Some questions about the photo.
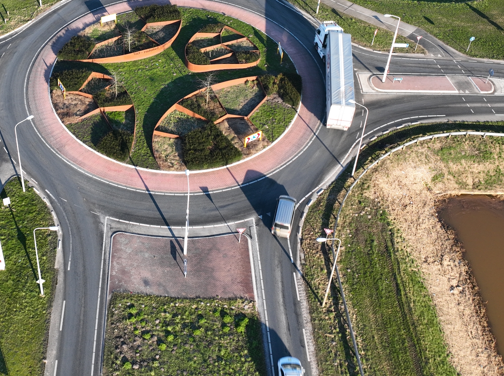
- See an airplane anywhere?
No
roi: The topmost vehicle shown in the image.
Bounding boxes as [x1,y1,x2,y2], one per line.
[313,17,342,63]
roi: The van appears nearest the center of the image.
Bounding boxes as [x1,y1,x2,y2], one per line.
[270,196,298,239]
